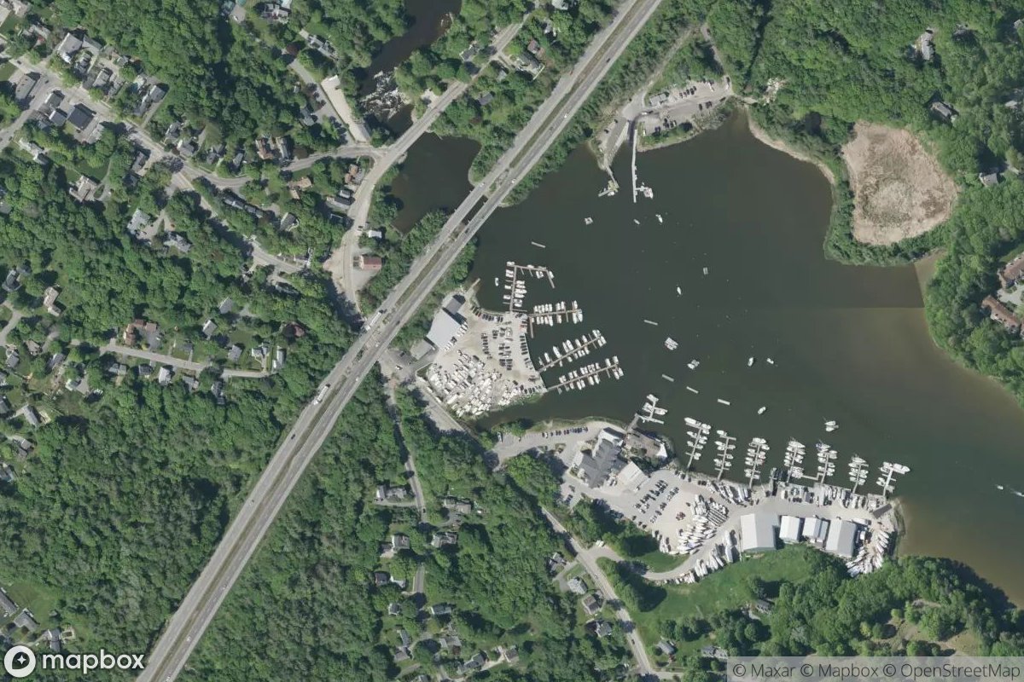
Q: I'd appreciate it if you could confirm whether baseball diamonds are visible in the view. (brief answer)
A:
No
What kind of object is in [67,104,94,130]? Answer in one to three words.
house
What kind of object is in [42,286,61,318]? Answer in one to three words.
house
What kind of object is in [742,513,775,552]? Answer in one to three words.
shed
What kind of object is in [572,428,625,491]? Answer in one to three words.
building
